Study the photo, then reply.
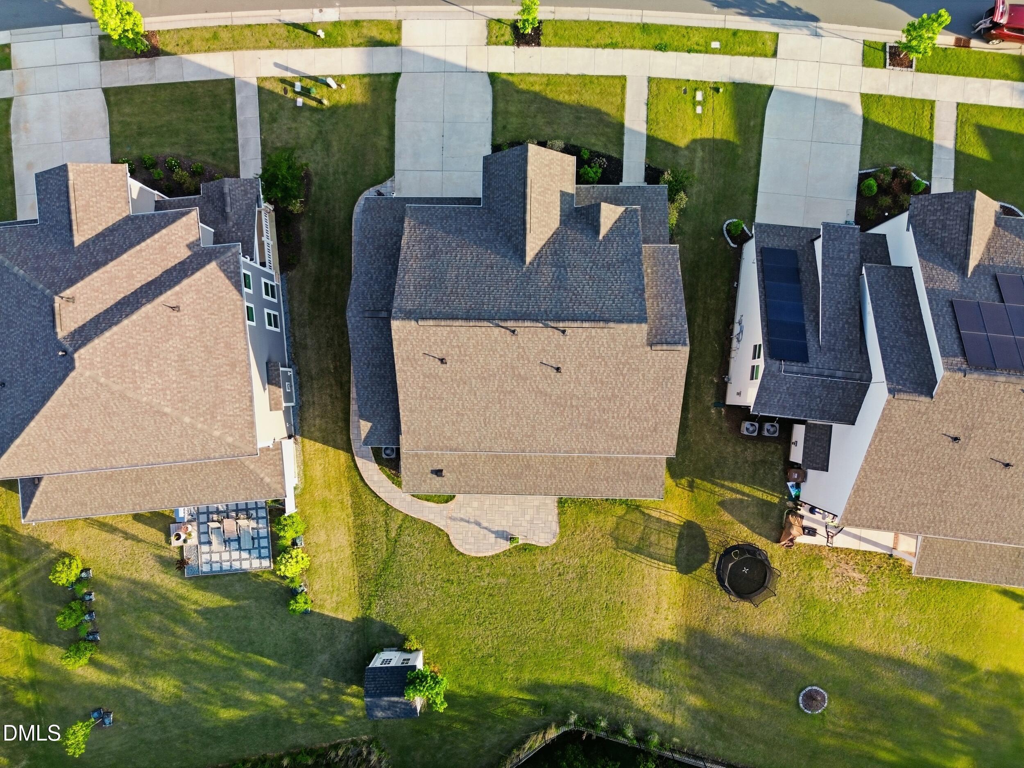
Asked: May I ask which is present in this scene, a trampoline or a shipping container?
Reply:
trampoline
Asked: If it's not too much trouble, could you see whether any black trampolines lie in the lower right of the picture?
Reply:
Yes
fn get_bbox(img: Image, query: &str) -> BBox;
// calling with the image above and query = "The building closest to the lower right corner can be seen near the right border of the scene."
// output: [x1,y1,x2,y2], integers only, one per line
[721,190,1024,589]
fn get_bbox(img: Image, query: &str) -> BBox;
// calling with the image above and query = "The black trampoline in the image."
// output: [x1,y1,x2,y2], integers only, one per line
[710,538,782,606]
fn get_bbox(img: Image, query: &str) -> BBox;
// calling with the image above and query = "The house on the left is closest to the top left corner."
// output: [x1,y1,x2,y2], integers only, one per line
[0,163,299,524]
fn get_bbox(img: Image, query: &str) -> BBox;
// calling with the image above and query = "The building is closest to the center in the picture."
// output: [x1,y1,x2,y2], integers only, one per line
[347,143,690,500]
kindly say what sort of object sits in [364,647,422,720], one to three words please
shed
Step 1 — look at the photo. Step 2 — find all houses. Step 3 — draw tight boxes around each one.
[0,163,299,524]
[721,190,1024,589]
[347,143,690,500]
